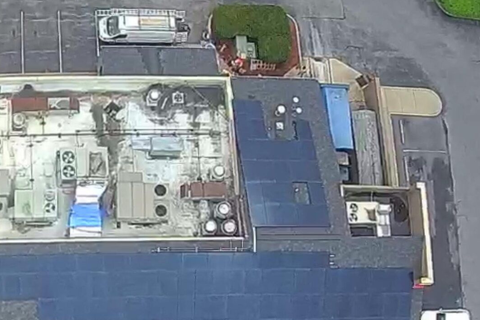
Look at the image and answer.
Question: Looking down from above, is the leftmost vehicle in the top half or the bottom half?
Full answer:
The leftmost vehicle sits in the top half of the picture.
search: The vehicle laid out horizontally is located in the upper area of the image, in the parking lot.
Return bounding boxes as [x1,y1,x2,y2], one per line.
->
[100,10,186,46]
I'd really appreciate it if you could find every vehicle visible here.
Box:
[423,308,474,320]
[100,10,186,46]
